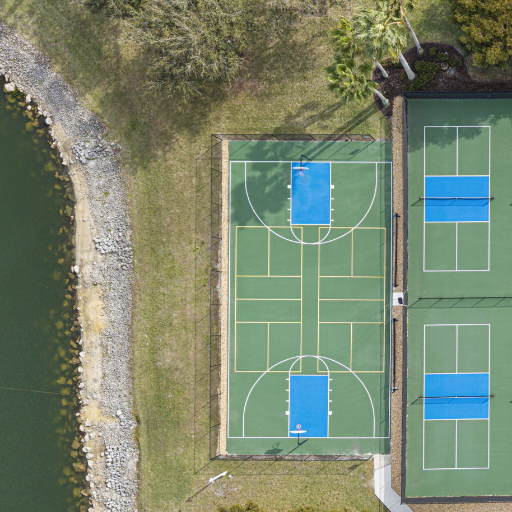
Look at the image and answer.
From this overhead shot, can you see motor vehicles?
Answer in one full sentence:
No, the frame has no motor vehicle in it.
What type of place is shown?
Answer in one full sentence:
The picture captures a sports ground.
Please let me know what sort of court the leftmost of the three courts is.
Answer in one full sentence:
From above, the leftmost of the three courts can be identified as a basketball court.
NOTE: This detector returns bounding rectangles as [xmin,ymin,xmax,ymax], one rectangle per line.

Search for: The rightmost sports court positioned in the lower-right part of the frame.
[423,324,491,469]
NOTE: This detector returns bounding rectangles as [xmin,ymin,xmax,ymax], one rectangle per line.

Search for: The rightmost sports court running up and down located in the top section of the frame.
[423,125,491,271]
